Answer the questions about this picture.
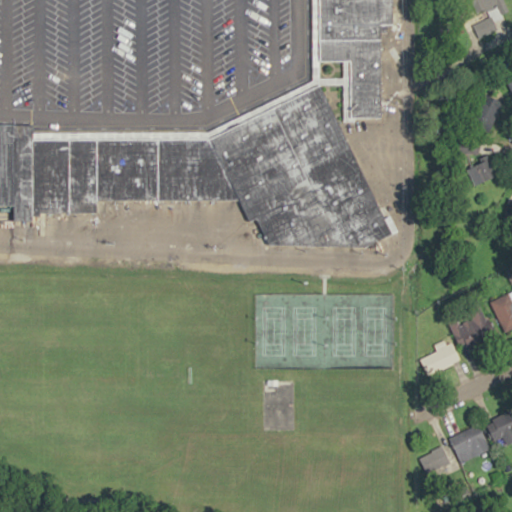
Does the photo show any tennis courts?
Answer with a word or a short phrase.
Yes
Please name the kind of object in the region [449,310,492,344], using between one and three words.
house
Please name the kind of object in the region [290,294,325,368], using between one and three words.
tennis court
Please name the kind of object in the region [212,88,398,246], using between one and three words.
building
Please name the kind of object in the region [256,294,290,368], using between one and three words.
tennis court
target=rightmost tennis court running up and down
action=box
[360,294,394,368]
